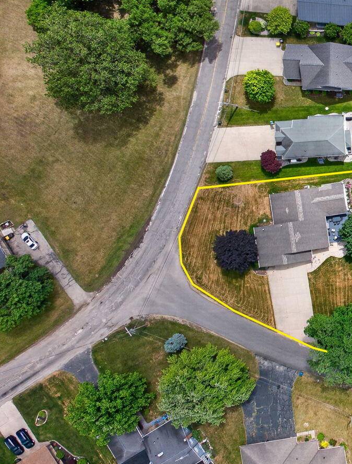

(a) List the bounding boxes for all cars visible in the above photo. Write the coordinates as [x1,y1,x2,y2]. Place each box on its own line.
[15,426,34,449]
[21,230,39,251]
[3,434,23,457]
